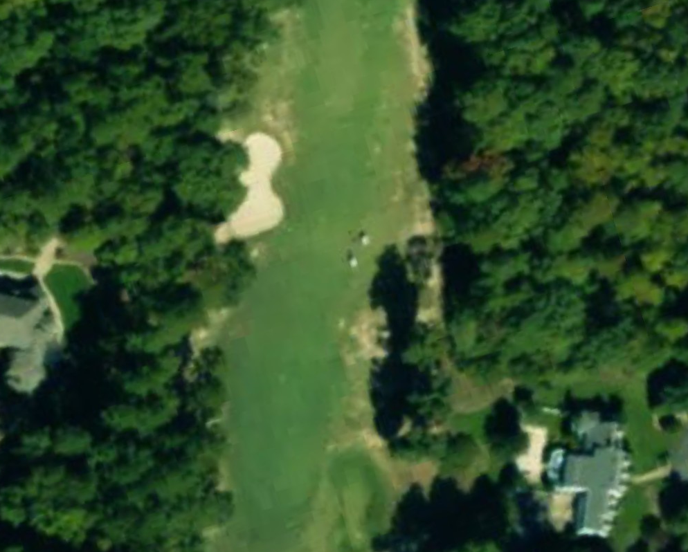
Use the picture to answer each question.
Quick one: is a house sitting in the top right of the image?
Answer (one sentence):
No, in the top right of the image there is no house.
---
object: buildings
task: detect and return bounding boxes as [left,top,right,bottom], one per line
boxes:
[548,410,629,536]
[0,292,76,393]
